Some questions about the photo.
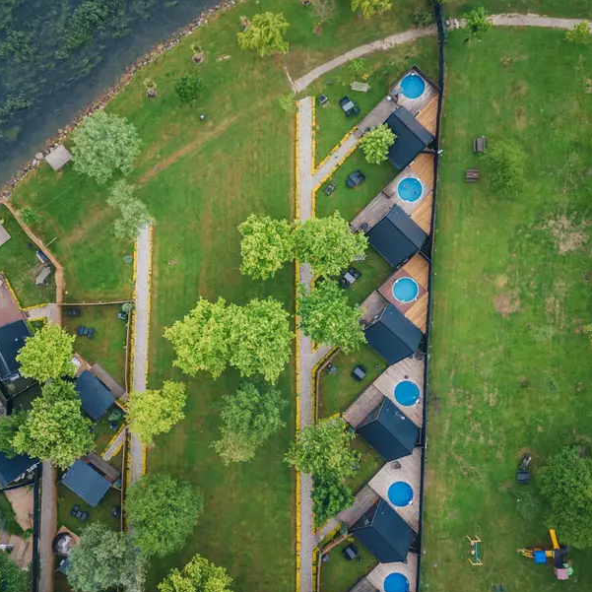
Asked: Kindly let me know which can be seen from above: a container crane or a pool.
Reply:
pool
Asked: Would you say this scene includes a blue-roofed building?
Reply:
Yes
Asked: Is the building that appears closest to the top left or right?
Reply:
right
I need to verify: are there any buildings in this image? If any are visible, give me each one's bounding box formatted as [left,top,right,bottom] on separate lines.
[62,456,112,508]
[366,205,428,267]
[66,370,117,420]
[354,398,420,461]
[55,557,90,592]
[378,106,435,169]
[0,450,38,487]
[0,319,30,380]
[350,499,416,563]
[359,302,423,365]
